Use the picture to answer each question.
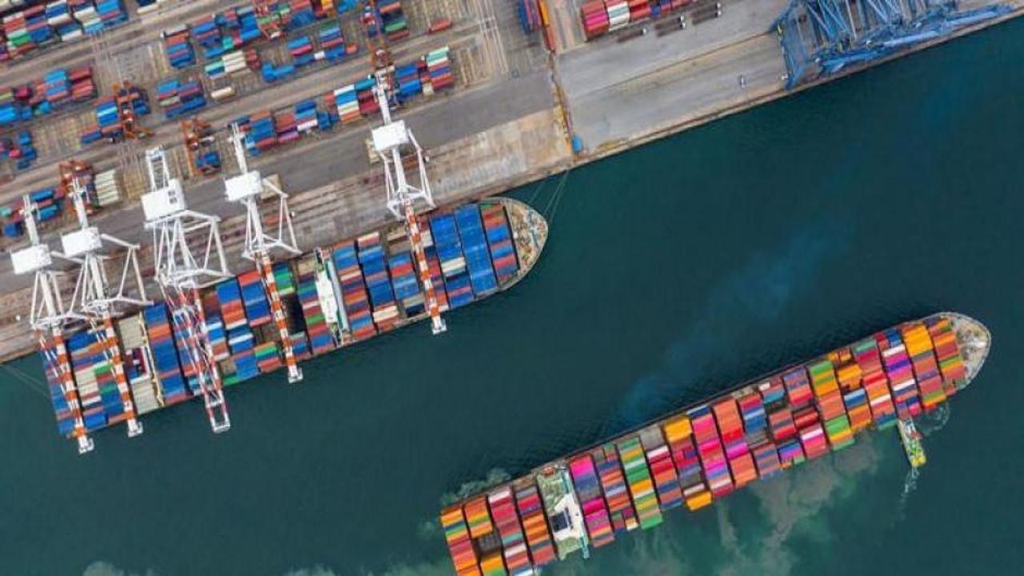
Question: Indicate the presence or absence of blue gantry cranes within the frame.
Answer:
Yes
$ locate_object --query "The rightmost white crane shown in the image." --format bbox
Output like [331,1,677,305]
[375,69,443,331]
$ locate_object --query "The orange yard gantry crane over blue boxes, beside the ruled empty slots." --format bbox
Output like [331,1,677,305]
[110,86,156,146]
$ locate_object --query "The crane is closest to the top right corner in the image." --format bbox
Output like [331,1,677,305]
[921,0,1005,41]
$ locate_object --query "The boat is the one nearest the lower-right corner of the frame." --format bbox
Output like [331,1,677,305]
[897,416,927,468]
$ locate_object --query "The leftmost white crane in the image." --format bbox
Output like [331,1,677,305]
[14,193,103,450]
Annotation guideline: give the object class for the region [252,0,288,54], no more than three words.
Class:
container crane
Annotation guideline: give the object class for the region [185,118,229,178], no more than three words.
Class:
container crane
